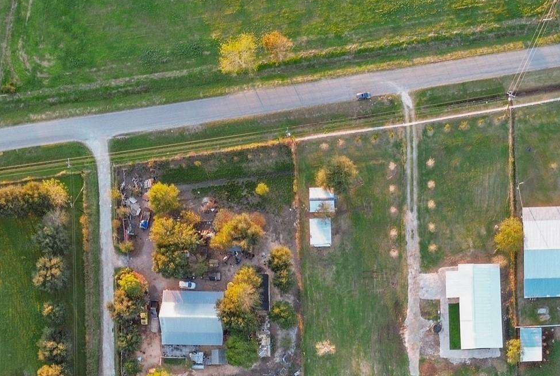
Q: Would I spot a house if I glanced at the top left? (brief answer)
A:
No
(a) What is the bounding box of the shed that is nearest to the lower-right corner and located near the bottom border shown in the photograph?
[521,328,543,361]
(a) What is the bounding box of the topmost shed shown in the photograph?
[309,188,336,217]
